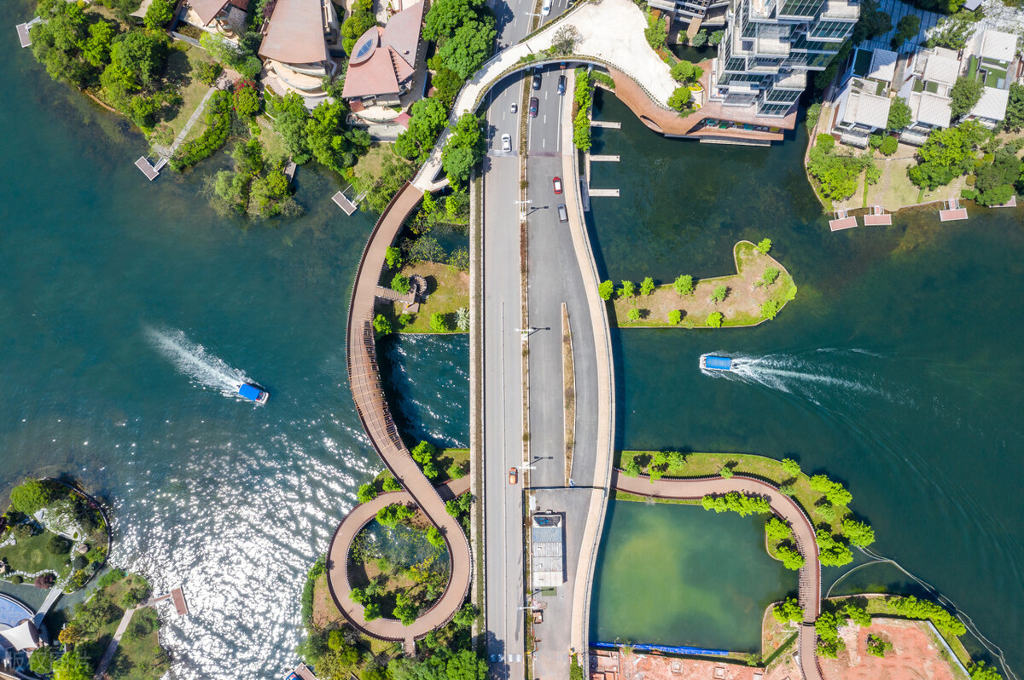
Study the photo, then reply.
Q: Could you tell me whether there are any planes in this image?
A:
No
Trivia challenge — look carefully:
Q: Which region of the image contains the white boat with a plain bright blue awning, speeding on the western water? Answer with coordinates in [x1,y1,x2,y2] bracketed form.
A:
[237,380,270,403]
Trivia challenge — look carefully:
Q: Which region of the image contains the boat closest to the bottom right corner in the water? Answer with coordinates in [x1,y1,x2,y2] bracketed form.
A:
[699,356,735,370]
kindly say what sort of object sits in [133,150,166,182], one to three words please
pier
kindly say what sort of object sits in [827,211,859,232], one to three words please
pier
